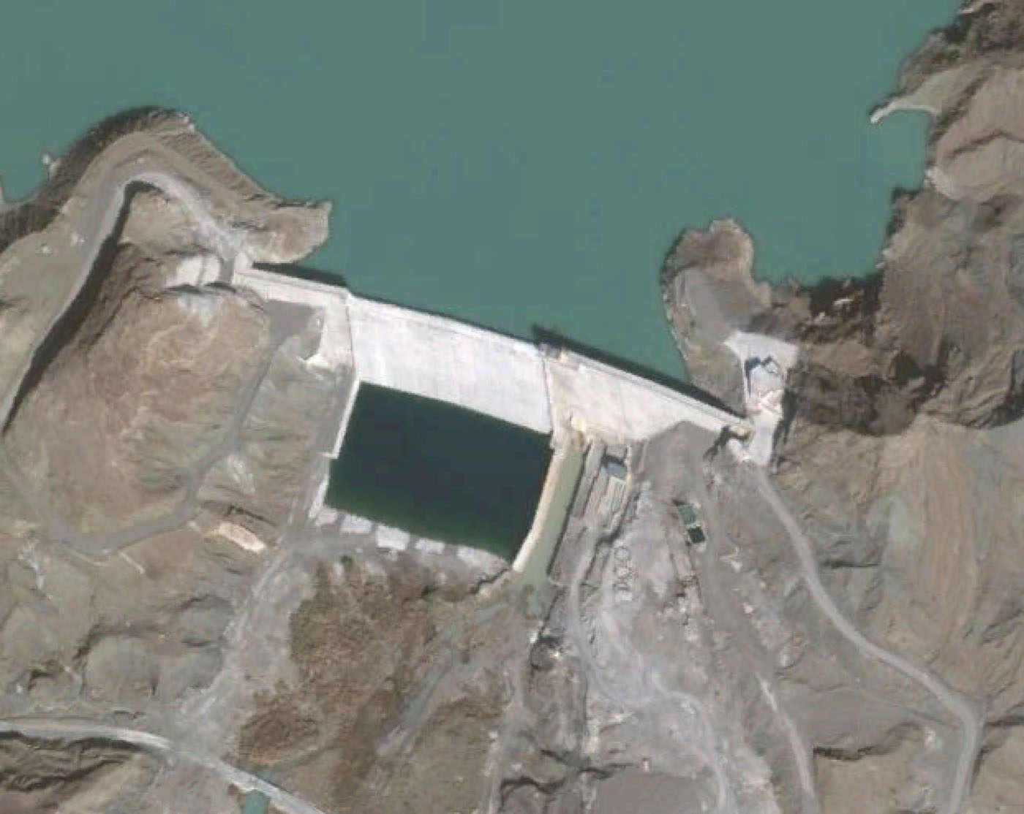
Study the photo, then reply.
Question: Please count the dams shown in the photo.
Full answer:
In total, 1 dam can be seen.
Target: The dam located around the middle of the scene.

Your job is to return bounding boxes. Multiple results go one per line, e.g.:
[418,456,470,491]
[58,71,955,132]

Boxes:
[232,252,749,454]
